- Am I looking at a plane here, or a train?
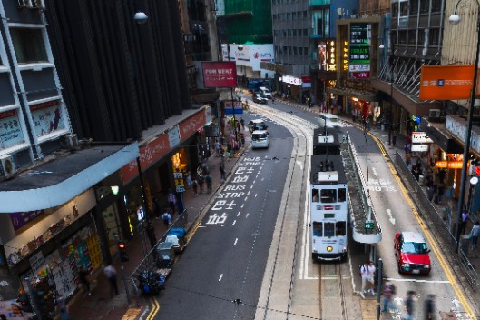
train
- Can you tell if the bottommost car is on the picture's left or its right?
right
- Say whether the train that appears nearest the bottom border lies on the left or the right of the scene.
right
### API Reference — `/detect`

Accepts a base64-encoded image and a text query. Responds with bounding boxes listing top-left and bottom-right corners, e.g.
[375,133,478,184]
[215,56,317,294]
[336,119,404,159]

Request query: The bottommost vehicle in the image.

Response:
[388,226,431,269]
